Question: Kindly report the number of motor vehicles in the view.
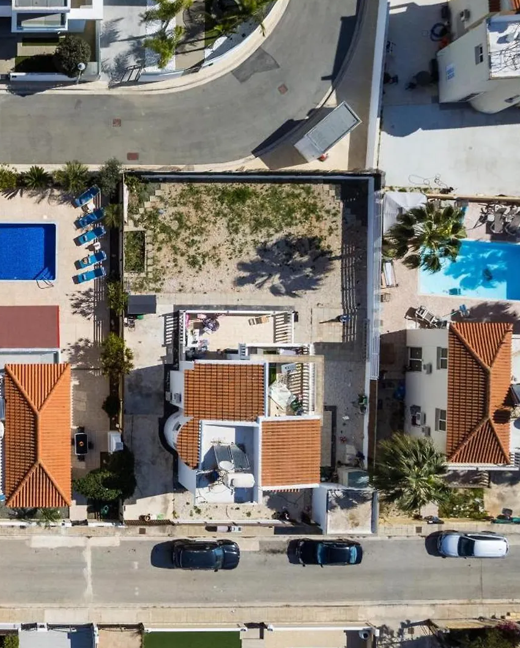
3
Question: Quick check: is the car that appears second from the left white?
No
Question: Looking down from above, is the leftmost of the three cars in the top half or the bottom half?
bottom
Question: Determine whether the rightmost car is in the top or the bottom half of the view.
bottom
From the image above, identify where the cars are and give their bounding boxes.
[172,538,239,572]
[295,536,363,569]
[436,529,510,562]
